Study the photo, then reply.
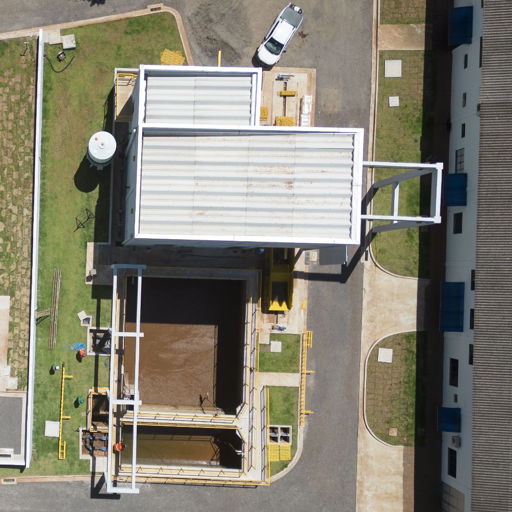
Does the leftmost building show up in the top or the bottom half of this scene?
top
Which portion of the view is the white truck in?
top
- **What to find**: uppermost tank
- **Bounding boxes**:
[85,134,116,175]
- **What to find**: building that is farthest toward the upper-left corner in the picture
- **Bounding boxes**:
[114,64,364,254]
